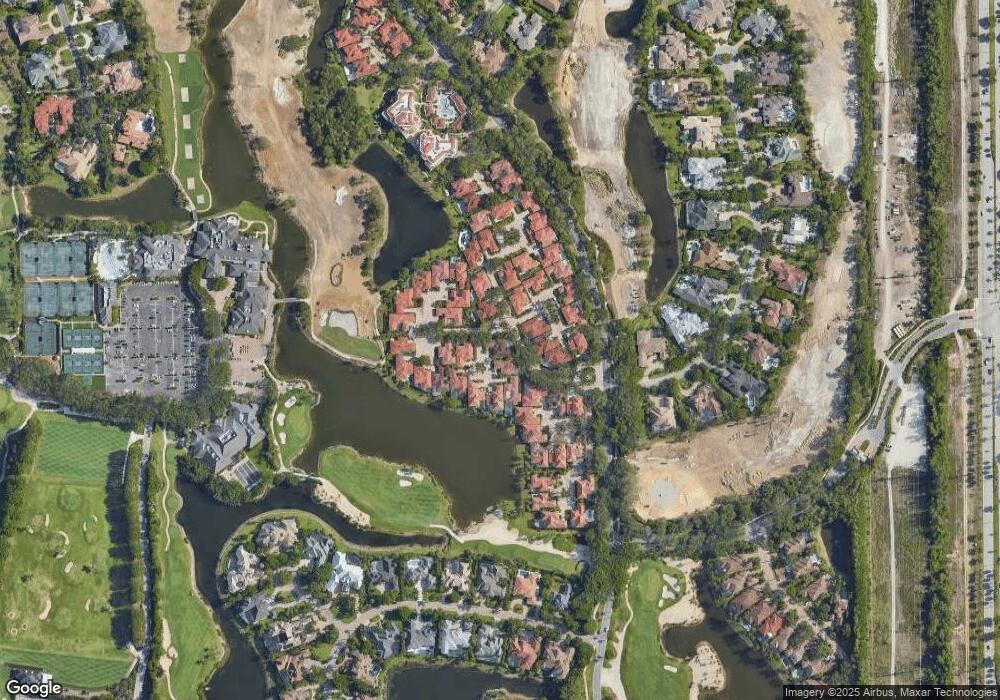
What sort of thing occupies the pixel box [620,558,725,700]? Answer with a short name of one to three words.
golf course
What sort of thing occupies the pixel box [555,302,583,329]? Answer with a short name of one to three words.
house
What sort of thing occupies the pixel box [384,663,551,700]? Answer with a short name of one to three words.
pond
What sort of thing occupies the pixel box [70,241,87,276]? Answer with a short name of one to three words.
tennis court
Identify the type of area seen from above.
residential area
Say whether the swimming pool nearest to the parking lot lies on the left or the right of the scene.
left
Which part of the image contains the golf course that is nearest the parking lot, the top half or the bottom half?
bottom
